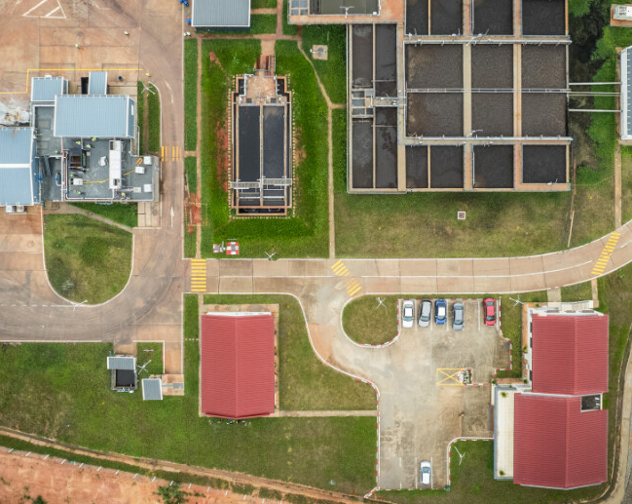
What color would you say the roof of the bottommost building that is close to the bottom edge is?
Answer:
red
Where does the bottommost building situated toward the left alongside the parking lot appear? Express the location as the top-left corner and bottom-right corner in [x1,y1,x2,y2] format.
[201,310,275,419]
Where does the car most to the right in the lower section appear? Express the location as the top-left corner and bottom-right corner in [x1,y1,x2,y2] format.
[482,297,496,326]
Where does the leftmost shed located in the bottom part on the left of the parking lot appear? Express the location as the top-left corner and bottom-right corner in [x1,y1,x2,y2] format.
[107,354,138,370]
